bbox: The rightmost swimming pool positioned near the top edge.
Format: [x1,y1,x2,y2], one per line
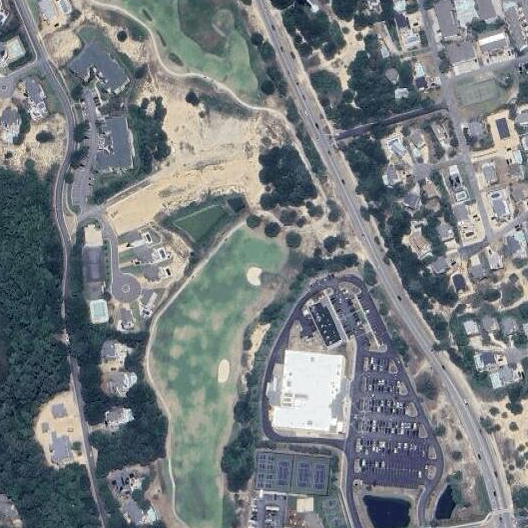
[459,4,471,22]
